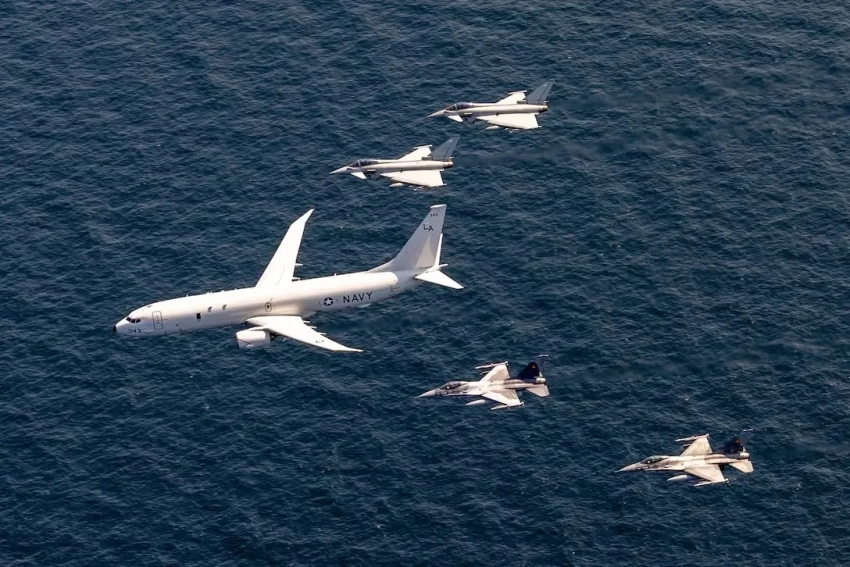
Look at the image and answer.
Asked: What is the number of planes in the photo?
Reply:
5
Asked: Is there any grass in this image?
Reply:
No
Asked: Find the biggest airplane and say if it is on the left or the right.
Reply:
left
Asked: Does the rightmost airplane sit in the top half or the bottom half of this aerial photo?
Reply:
bottom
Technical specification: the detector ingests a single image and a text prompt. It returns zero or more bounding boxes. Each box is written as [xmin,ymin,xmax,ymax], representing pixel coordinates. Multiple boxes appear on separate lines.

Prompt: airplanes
[113,205,464,352]
[333,135,460,188]
[618,429,754,486]
[428,81,554,132]
[418,354,550,408]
